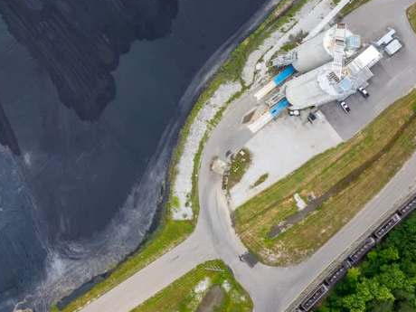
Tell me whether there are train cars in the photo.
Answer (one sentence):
Yes, a train car is visible in the scene.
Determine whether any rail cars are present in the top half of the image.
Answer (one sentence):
No, no rail car can be made out in the top half of the image.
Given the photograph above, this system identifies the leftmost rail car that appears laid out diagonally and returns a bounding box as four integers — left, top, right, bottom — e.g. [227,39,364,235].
[300,284,331,312]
